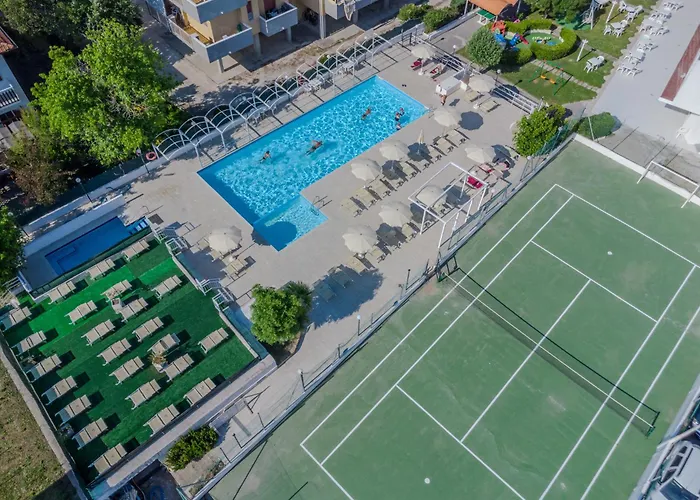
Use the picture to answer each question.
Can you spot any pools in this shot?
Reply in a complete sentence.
Yes, the photo shows a pool.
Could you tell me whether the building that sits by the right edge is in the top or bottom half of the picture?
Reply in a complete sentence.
It is in the top half that the building that sits by the right edge appears.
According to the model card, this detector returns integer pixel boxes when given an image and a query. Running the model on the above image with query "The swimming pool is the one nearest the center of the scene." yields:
[196,74,435,253]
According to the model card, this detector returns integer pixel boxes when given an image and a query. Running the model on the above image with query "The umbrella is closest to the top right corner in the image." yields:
[466,77,494,107]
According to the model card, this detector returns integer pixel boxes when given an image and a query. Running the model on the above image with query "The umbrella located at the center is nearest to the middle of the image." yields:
[342,226,377,261]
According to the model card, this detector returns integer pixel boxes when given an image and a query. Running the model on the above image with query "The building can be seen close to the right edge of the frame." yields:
[657,19,700,116]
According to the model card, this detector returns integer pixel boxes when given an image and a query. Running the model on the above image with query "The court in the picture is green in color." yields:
[205,141,700,500]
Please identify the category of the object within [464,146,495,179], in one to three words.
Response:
umbrella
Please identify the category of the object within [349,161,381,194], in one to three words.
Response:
umbrella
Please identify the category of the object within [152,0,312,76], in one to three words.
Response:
house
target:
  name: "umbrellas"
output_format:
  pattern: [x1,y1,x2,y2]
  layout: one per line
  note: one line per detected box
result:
[431,110,461,142]
[412,186,445,220]
[410,46,435,75]
[416,125,425,155]
[342,226,377,261]
[466,77,494,107]
[464,146,495,179]
[208,228,245,263]
[378,142,409,175]
[379,203,412,237]
[349,161,381,194]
